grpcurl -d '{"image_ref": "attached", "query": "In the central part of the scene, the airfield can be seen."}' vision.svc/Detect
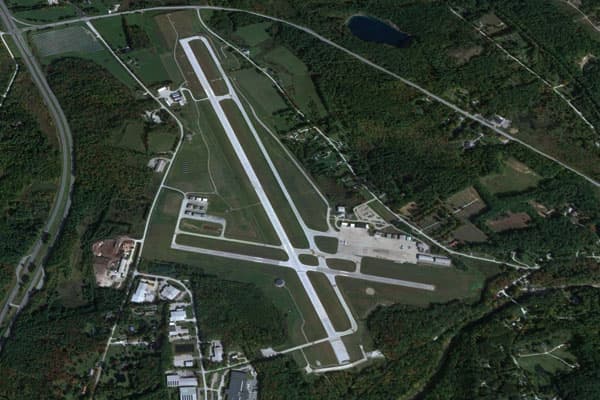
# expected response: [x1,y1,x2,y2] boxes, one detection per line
[141,14,500,374]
